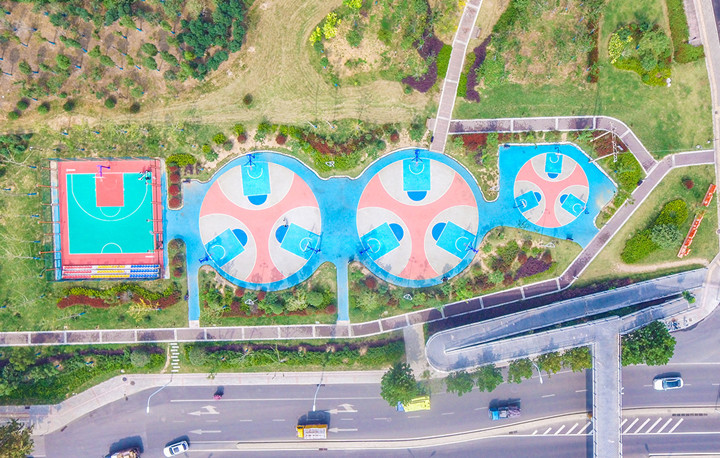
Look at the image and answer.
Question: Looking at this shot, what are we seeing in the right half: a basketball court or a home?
basketball court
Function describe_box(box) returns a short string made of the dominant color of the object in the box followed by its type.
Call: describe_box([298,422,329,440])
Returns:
white vehicle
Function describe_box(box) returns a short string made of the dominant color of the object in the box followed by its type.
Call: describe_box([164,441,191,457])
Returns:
white car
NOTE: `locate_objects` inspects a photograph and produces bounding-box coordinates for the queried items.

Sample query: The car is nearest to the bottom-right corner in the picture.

[653,377,683,392]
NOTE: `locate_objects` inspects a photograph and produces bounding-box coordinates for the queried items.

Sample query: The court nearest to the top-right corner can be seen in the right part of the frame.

[513,151,590,228]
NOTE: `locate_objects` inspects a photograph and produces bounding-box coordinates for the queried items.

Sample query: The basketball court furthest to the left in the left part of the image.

[51,160,168,281]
